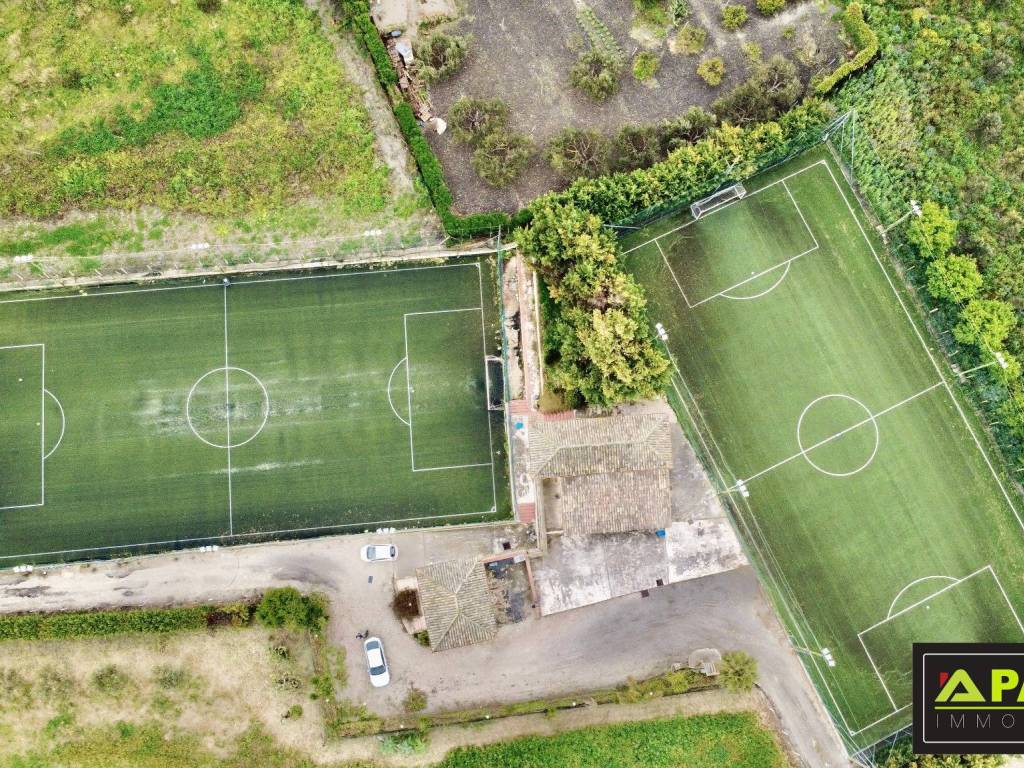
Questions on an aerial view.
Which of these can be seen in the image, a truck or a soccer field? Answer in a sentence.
Of the two, only a soccer field appears.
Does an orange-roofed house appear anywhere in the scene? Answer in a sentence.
No, no orange-roofed house is visible in the scene.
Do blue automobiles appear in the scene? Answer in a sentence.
No, this view has no blue automobile in it.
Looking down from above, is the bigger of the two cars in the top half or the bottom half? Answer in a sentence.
The bigger of the two cars sits in the bottom half of the picture.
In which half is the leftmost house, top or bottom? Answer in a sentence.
You can find the leftmost house in the bottom half.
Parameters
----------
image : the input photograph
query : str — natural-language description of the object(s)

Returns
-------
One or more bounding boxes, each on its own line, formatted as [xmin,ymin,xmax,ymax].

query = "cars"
[363,635,391,689]
[361,542,398,563]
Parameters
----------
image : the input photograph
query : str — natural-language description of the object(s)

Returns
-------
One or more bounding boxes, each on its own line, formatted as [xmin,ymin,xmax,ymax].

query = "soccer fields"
[599,143,1024,753]
[0,255,516,568]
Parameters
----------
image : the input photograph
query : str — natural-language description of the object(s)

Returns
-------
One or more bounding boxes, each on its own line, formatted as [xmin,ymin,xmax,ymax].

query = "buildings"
[528,413,673,536]
[415,555,499,653]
